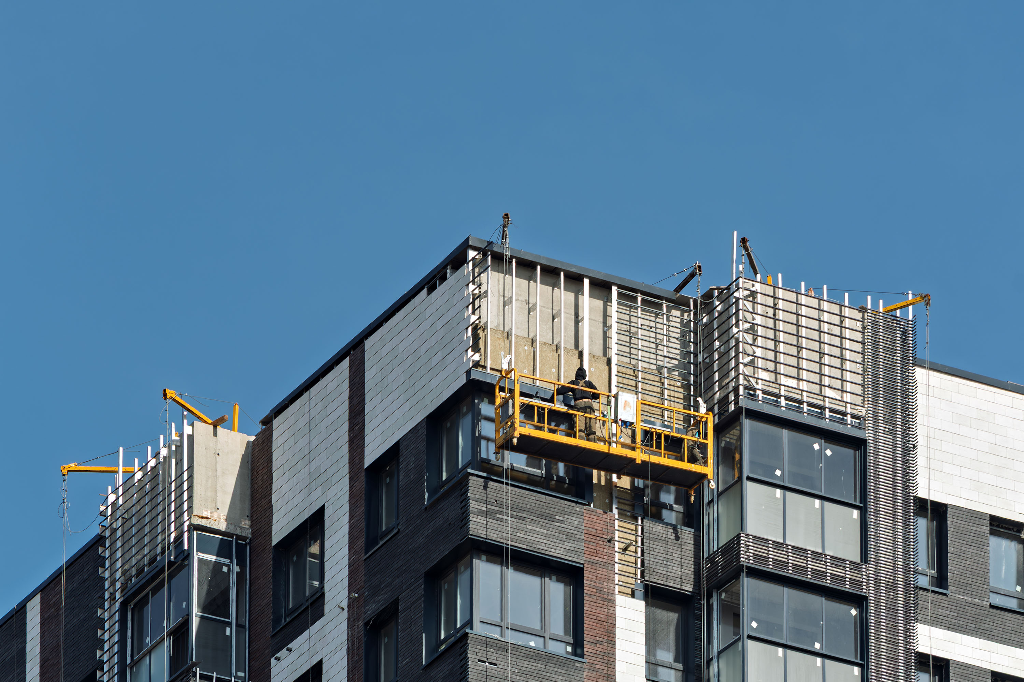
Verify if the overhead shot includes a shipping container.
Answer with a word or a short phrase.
No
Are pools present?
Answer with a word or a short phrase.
No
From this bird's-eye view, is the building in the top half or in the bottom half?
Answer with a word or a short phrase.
bottom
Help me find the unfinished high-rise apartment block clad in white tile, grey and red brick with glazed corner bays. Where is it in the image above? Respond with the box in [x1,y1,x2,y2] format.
[0,234,1024,682]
